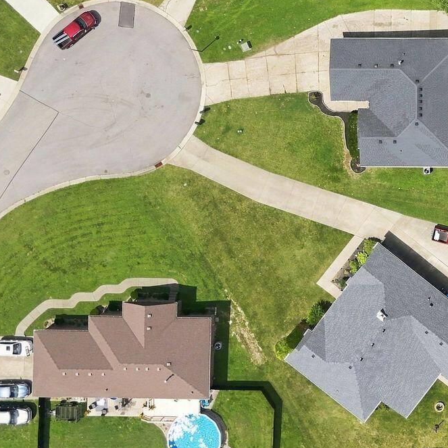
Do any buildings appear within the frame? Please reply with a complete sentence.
Yes, the picture does show a building.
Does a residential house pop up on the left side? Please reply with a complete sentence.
Yes, on the left side there is a residential house.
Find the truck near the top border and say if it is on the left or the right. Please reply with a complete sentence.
You can find the truck near the top border on the left side of the picture.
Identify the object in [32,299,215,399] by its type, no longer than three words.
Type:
house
